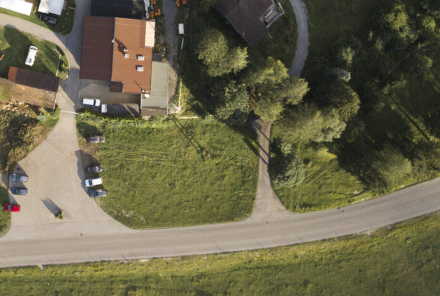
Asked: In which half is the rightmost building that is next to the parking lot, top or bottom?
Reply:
top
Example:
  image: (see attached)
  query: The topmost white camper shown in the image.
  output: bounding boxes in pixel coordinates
[25,44,38,65]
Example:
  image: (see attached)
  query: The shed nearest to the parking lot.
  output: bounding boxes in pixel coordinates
[0,65,61,109]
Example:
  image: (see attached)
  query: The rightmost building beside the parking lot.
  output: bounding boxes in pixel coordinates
[80,0,168,115]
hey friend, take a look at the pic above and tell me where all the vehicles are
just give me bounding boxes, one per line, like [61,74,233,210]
[5,202,21,212]
[87,164,102,174]
[84,177,102,185]
[82,97,101,107]
[39,13,57,24]
[11,187,27,195]
[88,188,107,197]
[25,44,38,65]
[101,102,140,118]
[87,134,106,144]
[12,172,30,182]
